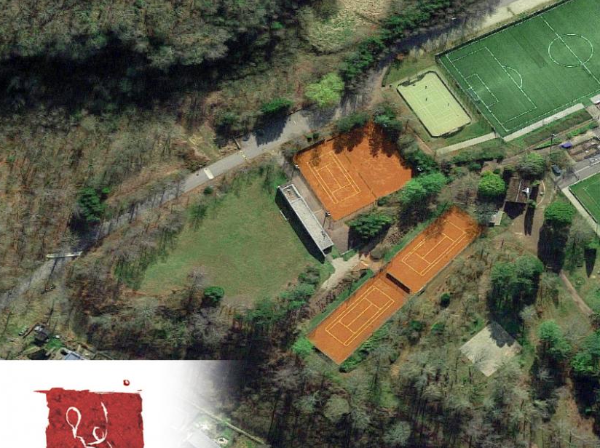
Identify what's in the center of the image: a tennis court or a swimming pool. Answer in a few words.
tennis court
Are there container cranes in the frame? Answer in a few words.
No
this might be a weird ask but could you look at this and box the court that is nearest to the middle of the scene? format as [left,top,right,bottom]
[294,143,371,221]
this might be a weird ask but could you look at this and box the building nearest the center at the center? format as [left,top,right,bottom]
[280,183,336,257]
